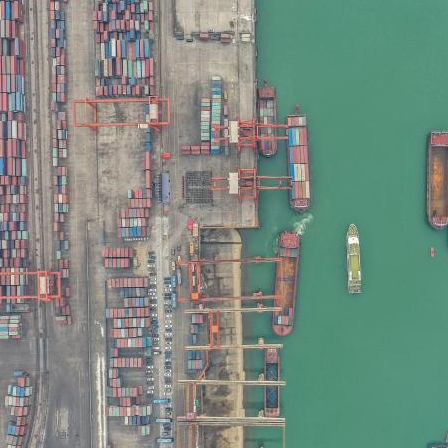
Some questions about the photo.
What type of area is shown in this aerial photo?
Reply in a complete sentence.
The picture captures a port.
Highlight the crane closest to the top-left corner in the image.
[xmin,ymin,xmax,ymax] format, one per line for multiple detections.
[74,98,170,136]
